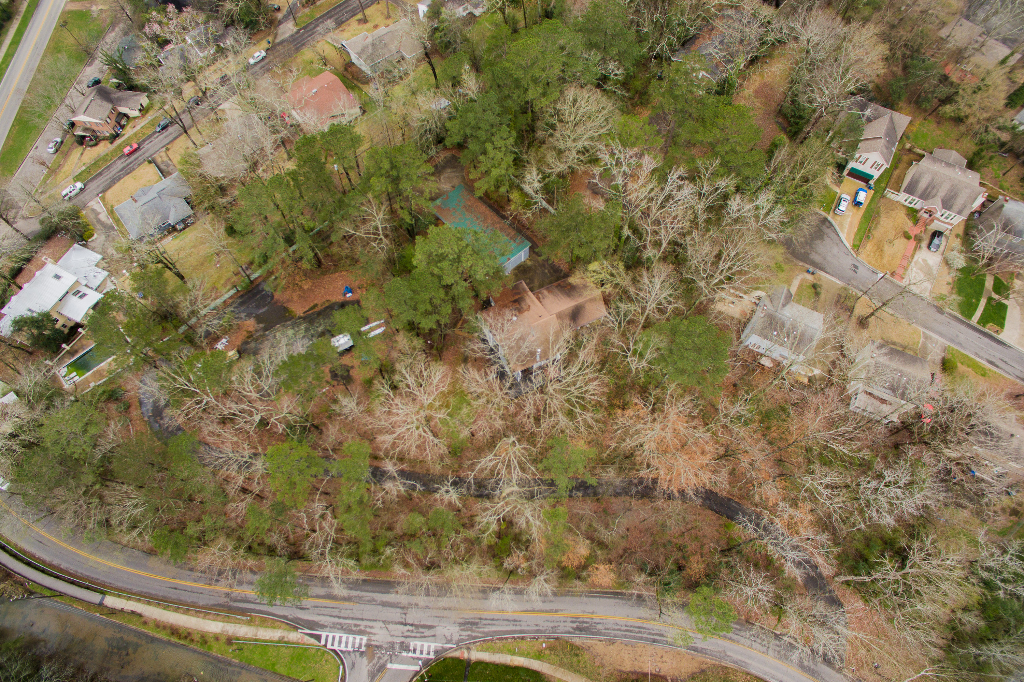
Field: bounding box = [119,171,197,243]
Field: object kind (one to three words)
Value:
house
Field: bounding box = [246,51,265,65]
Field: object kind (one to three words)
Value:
car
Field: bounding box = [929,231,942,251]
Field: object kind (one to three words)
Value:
vehicle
